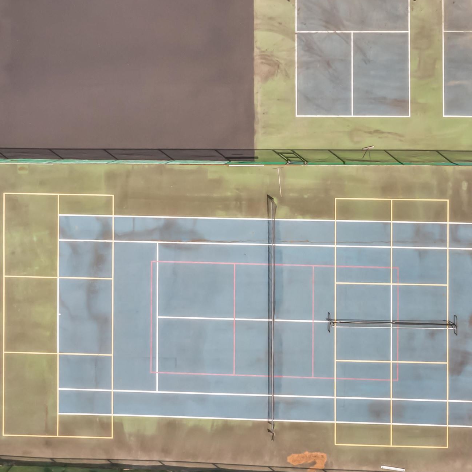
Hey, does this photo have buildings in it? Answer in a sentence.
No, the photo shows no building.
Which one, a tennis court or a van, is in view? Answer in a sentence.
Visible in the photo is a tennis court.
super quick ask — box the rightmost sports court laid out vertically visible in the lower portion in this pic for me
[334,198,449,448]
